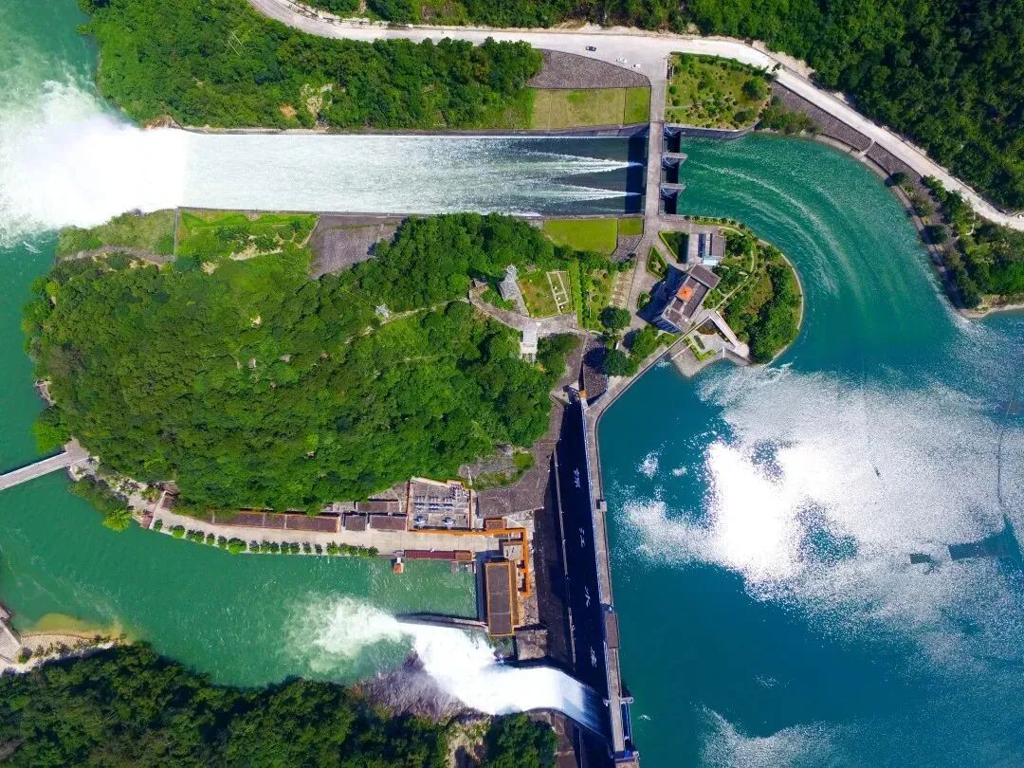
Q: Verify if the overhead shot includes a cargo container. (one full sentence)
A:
No, I can't see a single cargo container in this photo.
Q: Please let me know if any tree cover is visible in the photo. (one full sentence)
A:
Yes, tree cover can be seen from above here.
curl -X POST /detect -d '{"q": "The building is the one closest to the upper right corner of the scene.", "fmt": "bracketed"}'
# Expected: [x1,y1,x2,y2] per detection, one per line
[683,234,726,266]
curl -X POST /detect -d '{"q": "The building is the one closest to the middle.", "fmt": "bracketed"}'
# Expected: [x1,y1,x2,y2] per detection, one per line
[520,330,539,366]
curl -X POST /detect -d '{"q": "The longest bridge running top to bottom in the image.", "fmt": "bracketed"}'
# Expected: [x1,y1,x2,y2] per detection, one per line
[642,123,688,220]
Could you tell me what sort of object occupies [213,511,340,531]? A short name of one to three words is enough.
building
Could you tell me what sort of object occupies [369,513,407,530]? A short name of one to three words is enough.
building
